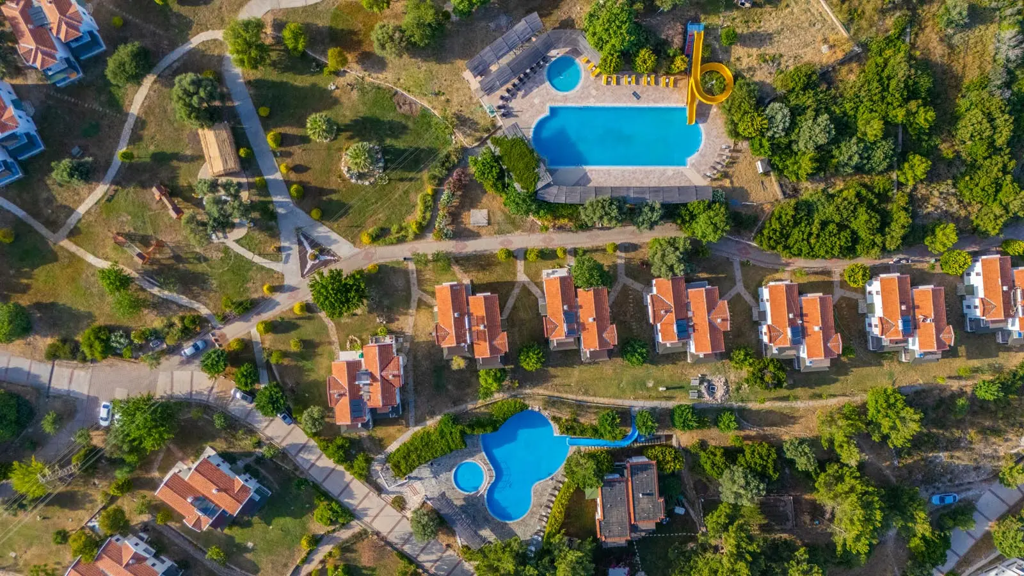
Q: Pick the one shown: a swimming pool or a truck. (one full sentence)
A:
This aerial view contains a swimming pool.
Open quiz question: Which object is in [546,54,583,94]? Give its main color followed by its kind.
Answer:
blue swimming pool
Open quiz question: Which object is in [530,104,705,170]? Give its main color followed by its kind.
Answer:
blue swimming pool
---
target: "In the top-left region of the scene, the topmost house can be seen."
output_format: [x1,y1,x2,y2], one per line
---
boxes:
[3,0,109,92]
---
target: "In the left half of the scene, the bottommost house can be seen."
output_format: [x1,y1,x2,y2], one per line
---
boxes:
[62,517,188,576]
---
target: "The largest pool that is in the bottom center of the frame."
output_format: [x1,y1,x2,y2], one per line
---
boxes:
[478,408,572,523]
